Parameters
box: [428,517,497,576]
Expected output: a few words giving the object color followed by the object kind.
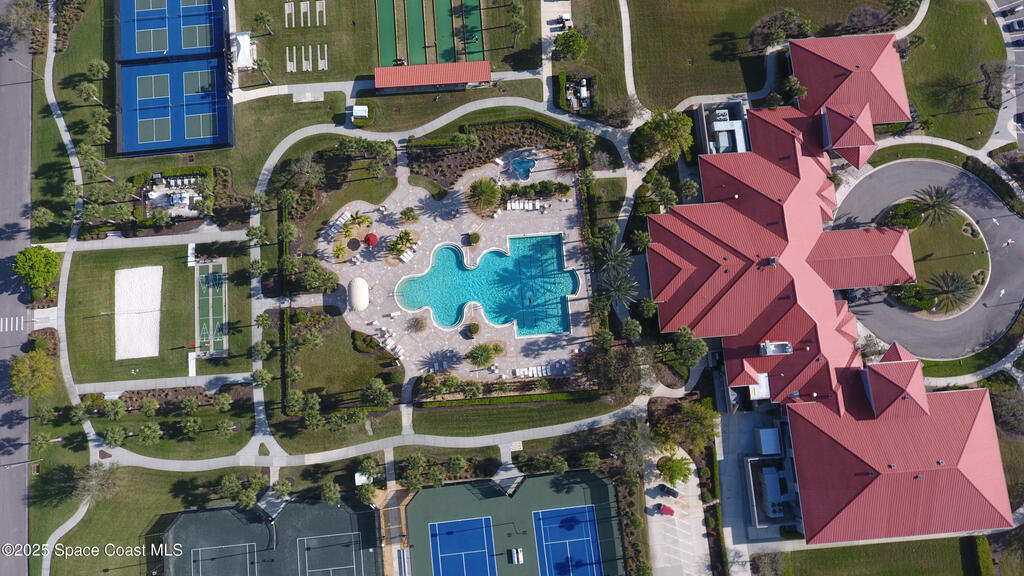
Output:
blue tennis court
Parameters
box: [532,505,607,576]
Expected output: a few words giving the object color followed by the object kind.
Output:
blue tennis court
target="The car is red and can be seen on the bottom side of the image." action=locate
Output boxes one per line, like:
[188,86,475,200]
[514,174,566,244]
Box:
[656,501,677,516]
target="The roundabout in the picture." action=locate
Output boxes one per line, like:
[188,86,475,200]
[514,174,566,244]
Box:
[870,197,992,322]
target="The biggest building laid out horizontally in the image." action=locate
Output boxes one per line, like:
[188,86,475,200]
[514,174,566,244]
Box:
[375,61,493,97]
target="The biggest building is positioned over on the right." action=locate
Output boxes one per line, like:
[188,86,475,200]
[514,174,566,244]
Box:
[646,32,1013,545]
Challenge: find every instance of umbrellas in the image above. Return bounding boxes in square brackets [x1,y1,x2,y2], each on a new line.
[365,234,378,247]
[148,189,160,199]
